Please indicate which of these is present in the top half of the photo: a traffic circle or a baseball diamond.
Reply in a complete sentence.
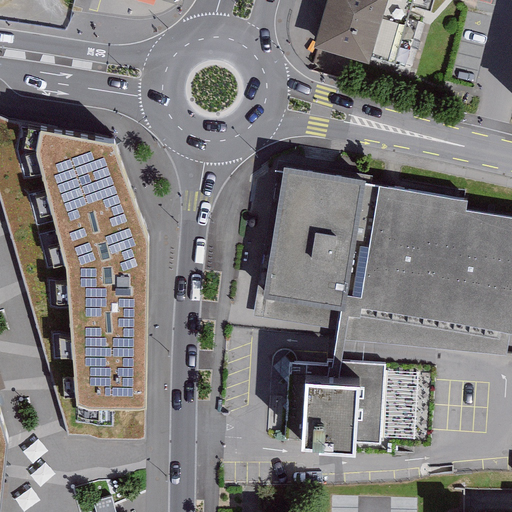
Looking in the top half of the photo, you will find a traffic circle.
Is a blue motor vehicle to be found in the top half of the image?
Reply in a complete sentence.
Yes, a blue motor vehicle is visible in the top half of the image.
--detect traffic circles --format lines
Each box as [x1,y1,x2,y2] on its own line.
[139,13,290,164]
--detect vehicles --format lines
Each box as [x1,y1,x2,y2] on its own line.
[184,380,194,404]
[288,78,312,95]
[455,70,476,81]
[186,344,198,368]
[188,312,198,334]
[272,456,288,483]
[194,236,206,264]
[245,76,259,100]
[294,470,324,481]
[176,276,186,300]
[198,200,210,226]
[190,274,202,302]
[170,460,181,484]
[248,103,264,124]
[464,382,474,404]
[24,76,46,88]
[203,172,215,196]
[463,30,488,44]
[0,33,16,44]
[172,390,182,410]
[186,134,208,150]
[107,78,130,90]
[204,120,227,132]
[260,28,270,52]
[328,92,354,108]
[361,104,383,117]
[147,90,170,104]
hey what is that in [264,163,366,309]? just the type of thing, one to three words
building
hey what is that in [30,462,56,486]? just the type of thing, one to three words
umbrella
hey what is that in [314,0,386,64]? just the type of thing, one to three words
house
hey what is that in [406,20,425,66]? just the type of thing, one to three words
shed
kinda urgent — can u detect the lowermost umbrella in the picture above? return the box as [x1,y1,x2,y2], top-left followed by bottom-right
[15,488,40,512]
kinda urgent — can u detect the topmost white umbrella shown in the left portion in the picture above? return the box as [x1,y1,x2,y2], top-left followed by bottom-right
[23,438,48,464]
